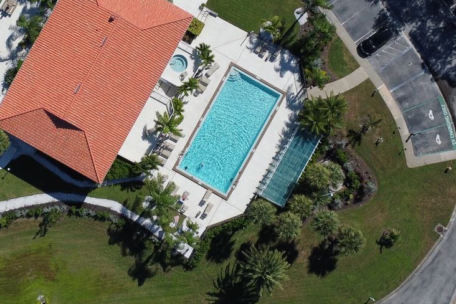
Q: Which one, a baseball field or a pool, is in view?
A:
pool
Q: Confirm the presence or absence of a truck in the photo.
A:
No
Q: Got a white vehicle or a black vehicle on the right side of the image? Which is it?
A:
black vehicle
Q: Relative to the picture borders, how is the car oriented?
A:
on a diagonal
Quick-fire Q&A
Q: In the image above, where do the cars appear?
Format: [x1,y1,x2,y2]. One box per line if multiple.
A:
[359,26,398,57]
